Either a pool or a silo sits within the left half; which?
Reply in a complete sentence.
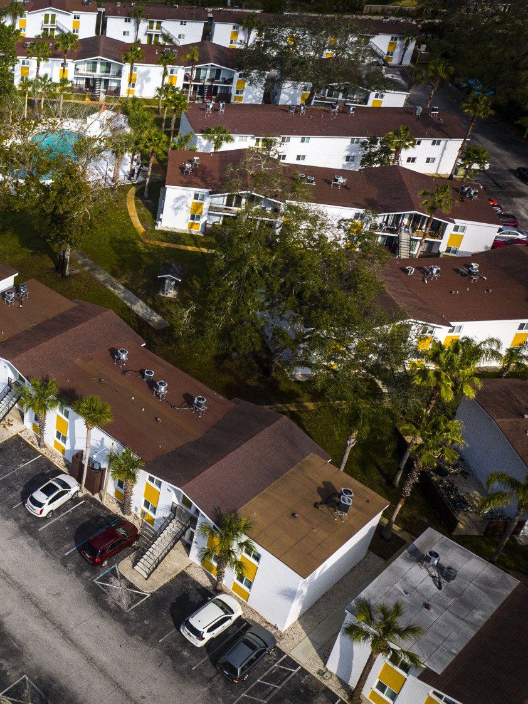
Visible within the left half is a pool.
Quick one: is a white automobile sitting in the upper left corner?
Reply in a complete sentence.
No, no white automobile appears in the upper left corner.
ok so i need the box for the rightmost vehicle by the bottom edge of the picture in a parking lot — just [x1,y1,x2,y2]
[214,625,278,684]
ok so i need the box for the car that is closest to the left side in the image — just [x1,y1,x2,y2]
[25,479,78,519]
